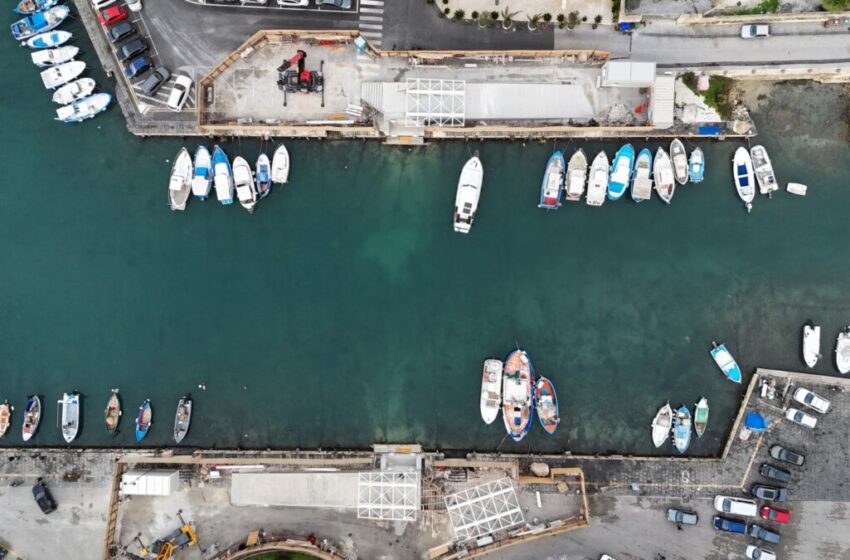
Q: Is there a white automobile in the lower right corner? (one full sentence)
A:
Yes, looking in the lower right corner, one can make out a white automobile.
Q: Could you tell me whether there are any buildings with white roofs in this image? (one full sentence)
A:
Yes, there is a building with a white roof in the image.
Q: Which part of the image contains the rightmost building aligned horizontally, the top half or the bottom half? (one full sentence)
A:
The rightmost building aligned horizontally is in the top half of the image.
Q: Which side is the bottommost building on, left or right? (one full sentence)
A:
It is on the left.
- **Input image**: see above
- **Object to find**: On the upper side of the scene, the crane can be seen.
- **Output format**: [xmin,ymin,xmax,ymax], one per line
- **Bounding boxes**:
[276,50,325,109]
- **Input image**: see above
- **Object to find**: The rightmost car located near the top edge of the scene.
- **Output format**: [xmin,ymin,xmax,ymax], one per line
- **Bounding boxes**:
[739,24,769,40]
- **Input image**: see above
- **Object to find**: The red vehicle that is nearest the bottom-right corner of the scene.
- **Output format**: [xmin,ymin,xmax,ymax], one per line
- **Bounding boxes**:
[757,504,789,522]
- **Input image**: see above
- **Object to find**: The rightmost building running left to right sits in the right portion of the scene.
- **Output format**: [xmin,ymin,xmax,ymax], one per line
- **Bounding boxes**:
[603,62,657,86]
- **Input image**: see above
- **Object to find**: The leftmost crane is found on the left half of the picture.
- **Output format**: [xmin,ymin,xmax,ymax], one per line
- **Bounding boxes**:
[125,509,208,560]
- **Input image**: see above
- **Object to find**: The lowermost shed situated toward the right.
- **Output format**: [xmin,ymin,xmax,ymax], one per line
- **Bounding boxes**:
[648,75,676,129]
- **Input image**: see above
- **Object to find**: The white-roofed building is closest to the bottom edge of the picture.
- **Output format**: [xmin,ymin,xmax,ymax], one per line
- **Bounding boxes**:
[122,470,178,495]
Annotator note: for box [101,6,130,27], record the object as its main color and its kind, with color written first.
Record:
red car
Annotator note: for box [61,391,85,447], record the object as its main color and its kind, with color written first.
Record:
white boat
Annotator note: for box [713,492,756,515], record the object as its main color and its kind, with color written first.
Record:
white vehicle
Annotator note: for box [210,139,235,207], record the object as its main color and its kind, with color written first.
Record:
white boat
